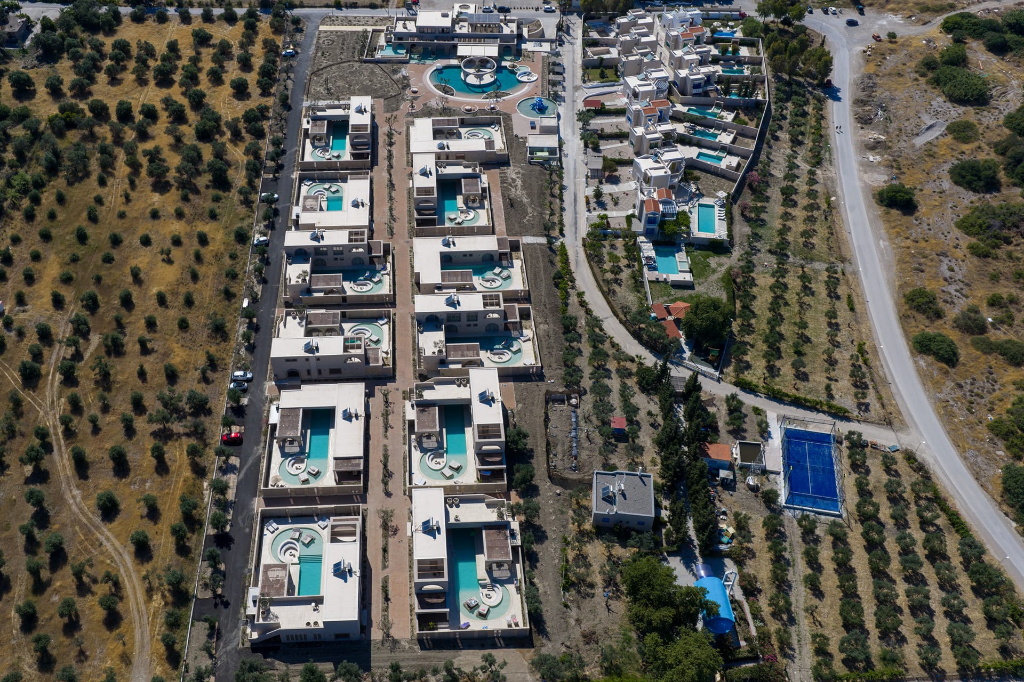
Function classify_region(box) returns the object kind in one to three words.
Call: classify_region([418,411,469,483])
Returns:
swimming pool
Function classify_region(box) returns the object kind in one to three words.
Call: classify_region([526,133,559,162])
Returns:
building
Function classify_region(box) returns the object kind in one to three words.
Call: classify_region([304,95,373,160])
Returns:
house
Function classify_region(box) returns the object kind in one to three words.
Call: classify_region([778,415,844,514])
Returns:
sports court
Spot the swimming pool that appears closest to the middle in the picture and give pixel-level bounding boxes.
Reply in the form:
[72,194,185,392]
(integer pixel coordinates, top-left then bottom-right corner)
[445,334,524,366]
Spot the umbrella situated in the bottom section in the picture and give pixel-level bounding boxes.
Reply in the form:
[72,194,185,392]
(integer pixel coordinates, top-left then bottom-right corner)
[269,471,284,484]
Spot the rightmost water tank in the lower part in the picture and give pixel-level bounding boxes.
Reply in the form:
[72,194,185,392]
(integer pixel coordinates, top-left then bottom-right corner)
[733,441,764,470]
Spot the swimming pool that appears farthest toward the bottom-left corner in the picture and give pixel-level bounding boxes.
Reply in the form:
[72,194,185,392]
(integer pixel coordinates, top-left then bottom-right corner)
[268,522,326,601]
